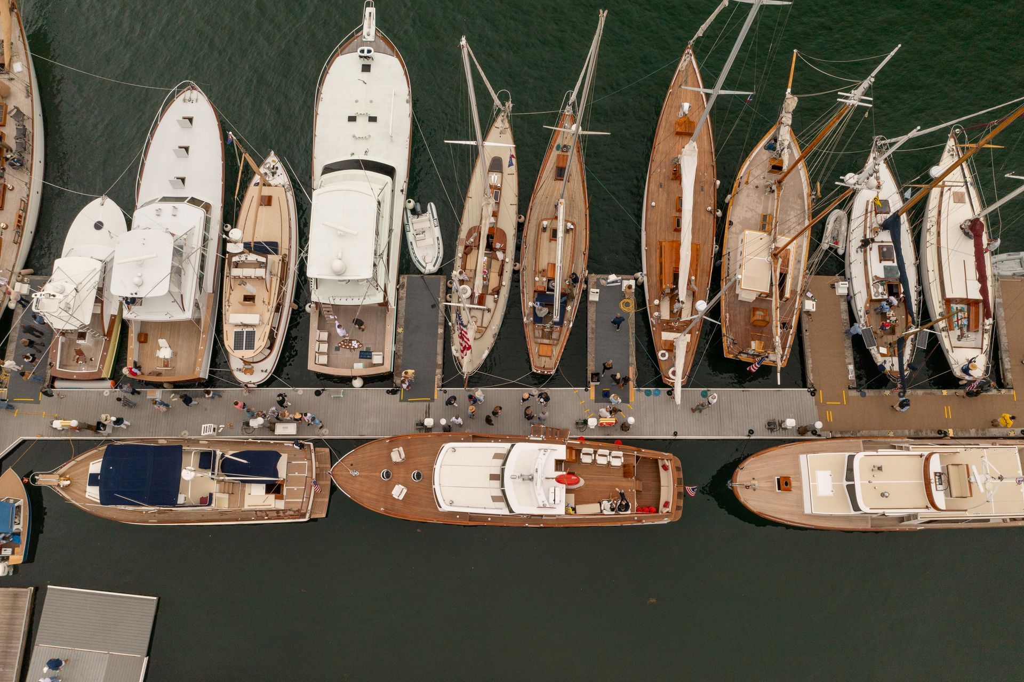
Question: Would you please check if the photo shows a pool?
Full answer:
No, there is no pool in the image.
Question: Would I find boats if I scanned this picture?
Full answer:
Yes, the photo shows a boat.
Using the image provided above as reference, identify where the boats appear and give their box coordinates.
[405,195,444,274]
[331,432,686,527]
[642,0,792,408]
[21,439,331,525]
[111,80,232,386]
[992,250,1024,277]
[915,113,1024,379]
[821,208,849,253]
[284,0,412,382]
[730,437,1024,531]
[222,130,313,387]
[443,30,518,388]
[0,194,128,381]
[716,44,922,385]
[842,95,1024,393]
[520,0,611,375]
[0,0,51,341]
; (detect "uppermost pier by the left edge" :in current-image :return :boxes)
[2,275,54,388]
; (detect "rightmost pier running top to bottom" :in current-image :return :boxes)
[993,276,1024,389]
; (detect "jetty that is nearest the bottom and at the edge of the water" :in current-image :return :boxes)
[26,644,152,682]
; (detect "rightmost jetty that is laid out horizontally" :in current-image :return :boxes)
[819,389,1024,437]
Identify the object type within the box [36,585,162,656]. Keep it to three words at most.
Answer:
pier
